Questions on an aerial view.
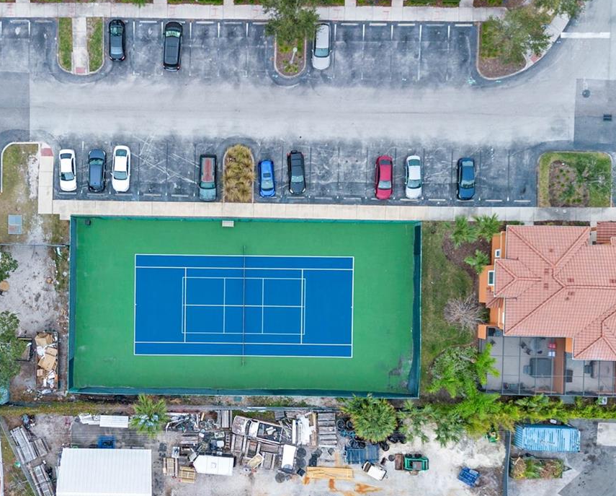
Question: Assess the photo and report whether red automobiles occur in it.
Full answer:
Yes, there's a red automobile down there.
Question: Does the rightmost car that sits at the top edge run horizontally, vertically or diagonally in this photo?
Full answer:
What the image shows is the rightmost car that sits at the top edge lying vertically.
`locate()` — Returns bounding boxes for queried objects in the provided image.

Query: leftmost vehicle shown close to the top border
[107,20,126,62]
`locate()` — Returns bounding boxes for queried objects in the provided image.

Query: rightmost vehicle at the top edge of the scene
[312,23,332,70]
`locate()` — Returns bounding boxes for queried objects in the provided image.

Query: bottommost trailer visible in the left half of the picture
[185,451,234,476]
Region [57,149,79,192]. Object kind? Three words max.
car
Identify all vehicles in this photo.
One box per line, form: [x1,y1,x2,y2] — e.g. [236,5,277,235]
[404,154,425,200]
[198,154,217,201]
[107,20,126,62]
[233,415,291,445]
[87,149,107,193]
[162,21,184,72]
[456,157,477,201]
[111,145,131,193]
[258,159,276,198]
[312,23,332,70]
[374,154,394,201]
[57,149,79,192]
[286,148,307,196]
[392,449,427,471]
[360,461,387,481]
